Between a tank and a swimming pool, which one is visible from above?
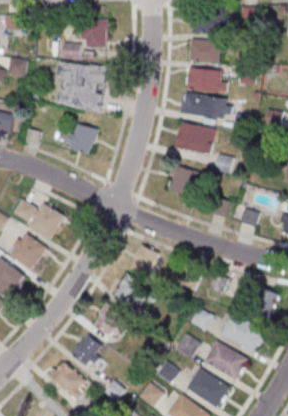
swimming pool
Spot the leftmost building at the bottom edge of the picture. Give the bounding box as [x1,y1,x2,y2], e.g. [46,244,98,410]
[50,362,86,398]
